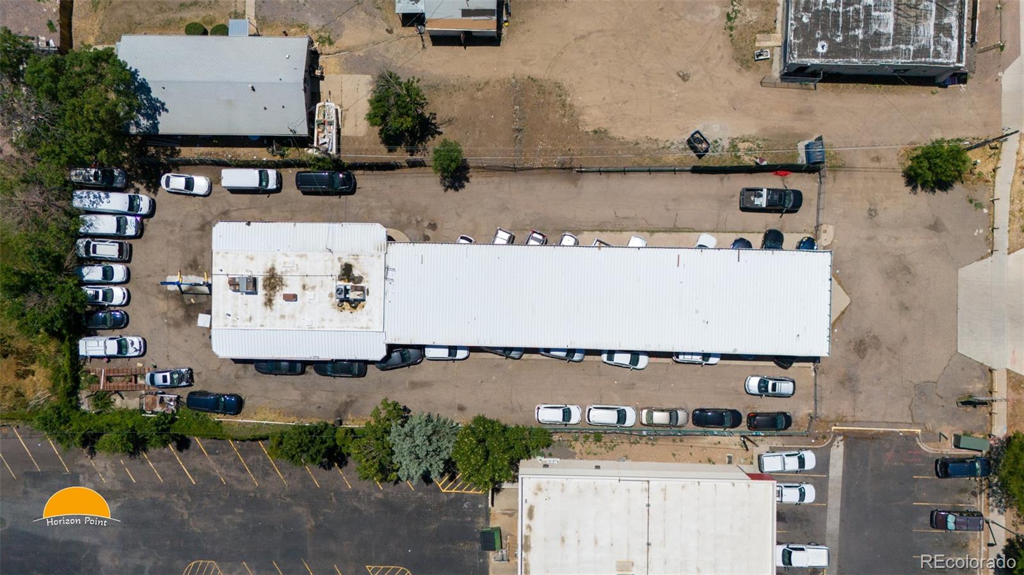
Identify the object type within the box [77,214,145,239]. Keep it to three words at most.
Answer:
vehicle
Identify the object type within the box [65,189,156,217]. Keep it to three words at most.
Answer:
van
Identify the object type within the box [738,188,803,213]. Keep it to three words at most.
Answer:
truck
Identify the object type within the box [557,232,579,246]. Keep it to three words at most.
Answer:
car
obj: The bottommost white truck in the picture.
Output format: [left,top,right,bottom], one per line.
[776,542,830,568]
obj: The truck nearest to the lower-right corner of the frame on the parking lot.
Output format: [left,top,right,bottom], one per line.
[927,508,986,532]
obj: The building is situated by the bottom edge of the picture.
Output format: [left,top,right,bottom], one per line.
[519,461,776,575]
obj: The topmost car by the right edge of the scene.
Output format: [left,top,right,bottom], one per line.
[932,455,990,480]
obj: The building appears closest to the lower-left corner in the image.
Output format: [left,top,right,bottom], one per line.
[211,221,387,362]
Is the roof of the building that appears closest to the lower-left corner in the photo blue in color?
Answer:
No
